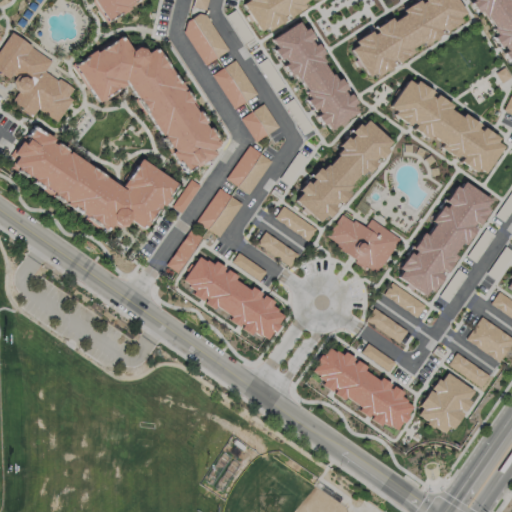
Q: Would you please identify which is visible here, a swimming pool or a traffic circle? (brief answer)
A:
swimming pool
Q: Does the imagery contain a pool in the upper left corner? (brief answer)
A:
Yes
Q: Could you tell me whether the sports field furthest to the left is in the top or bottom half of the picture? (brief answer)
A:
bottom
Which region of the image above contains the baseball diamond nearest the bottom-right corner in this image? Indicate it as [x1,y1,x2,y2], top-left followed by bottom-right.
[226,450,349,512]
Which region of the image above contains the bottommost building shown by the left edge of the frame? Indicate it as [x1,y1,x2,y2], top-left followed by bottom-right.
[14,132,180,230]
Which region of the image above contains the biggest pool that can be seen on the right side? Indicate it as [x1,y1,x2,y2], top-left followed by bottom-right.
[366,160,438,230]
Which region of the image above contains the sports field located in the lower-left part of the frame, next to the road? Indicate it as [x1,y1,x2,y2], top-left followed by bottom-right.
[3,312,256,512]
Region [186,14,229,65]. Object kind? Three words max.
building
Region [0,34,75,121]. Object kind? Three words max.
building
